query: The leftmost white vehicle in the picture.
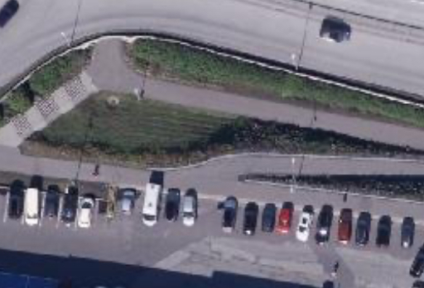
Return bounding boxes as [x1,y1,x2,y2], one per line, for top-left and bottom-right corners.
[24,189,39,226]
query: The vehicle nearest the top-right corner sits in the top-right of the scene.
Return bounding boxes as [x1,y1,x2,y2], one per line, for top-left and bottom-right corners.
[318,23,350,42]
